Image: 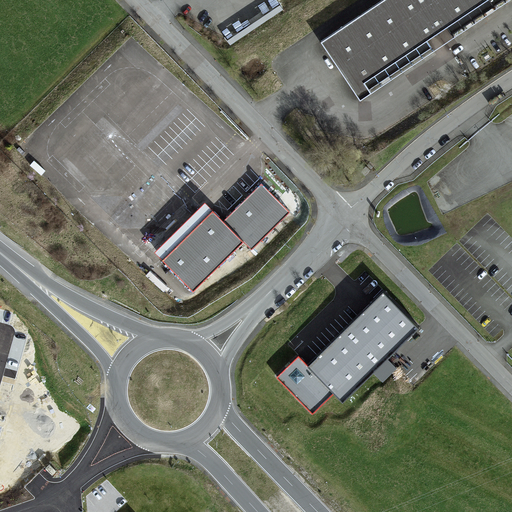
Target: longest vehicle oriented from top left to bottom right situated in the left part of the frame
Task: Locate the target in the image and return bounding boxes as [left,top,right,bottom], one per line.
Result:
[147,271,168,292]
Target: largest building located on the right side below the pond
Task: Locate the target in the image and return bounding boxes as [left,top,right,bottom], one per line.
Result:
[308,294,417,403]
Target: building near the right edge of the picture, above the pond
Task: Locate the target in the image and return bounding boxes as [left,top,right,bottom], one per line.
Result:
[322,0,511,101]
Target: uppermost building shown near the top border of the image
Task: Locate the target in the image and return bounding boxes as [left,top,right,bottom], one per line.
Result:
[224,0,283,46]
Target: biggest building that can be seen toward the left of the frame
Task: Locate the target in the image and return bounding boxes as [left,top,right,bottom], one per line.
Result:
[154,204,243,292]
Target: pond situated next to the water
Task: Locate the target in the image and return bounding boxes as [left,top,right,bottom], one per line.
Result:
[382,184,446,246]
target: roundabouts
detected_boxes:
[107,328,232,452]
